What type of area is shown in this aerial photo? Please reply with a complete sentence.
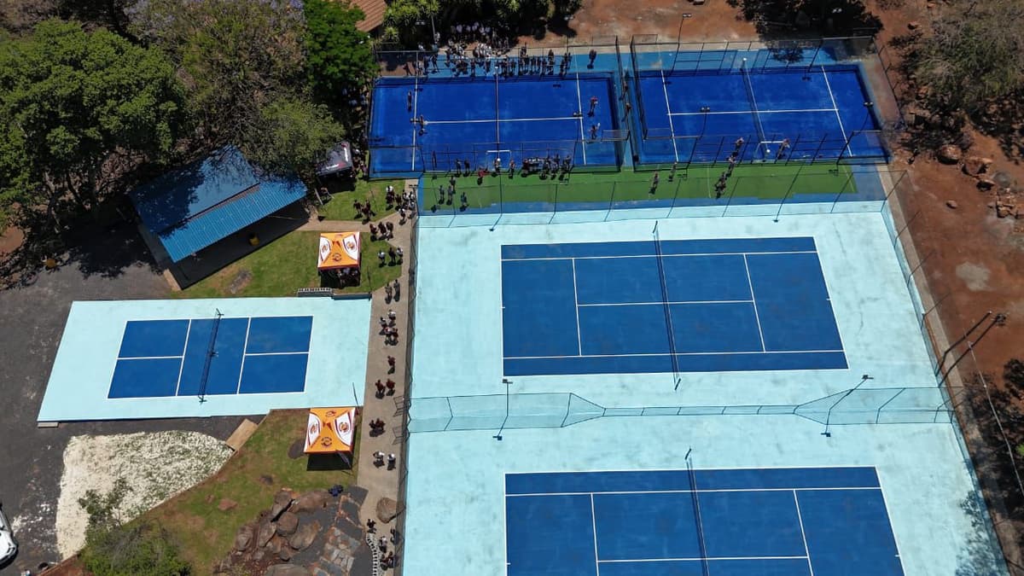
This image shows a sports ground.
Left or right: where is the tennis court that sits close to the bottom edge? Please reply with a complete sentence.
It is on the right.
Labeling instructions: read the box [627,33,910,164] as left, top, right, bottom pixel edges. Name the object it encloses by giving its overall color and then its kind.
blue sports court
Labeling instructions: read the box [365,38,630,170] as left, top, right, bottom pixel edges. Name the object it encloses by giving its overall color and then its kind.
blue sports court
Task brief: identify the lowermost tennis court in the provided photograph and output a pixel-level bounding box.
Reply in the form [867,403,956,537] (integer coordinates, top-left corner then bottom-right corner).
[401,406,1010,576]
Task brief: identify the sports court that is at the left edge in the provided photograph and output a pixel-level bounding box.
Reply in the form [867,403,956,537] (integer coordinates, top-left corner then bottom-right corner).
[32,296,370,427]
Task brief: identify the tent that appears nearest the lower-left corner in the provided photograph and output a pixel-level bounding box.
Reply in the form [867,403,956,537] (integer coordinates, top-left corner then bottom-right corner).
[304,408,361,464]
